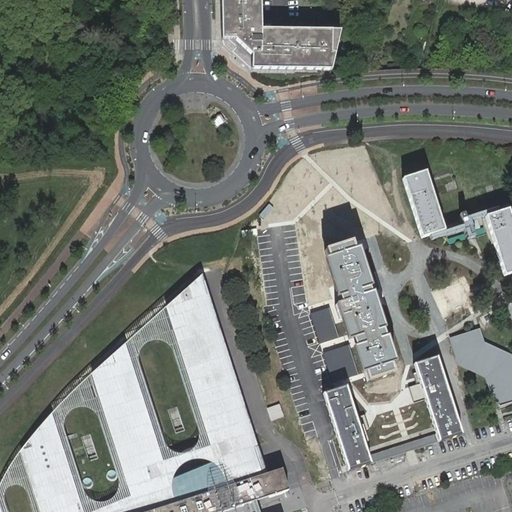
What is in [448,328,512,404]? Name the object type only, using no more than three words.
building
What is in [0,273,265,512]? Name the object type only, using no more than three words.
building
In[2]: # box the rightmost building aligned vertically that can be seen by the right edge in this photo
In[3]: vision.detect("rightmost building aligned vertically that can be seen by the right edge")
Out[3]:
[484,206,512,276]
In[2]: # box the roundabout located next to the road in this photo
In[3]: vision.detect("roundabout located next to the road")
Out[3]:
[130,74,262,207]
